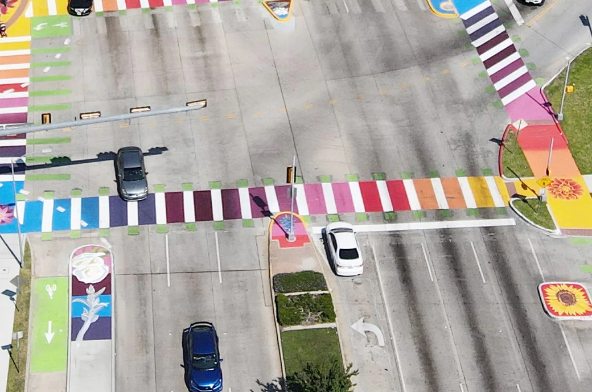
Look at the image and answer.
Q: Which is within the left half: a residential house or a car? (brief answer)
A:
car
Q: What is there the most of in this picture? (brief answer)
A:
paved ground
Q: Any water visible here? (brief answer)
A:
No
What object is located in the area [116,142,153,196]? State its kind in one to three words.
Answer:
car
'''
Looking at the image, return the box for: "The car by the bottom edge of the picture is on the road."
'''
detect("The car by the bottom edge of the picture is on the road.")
[183,318,225,390]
